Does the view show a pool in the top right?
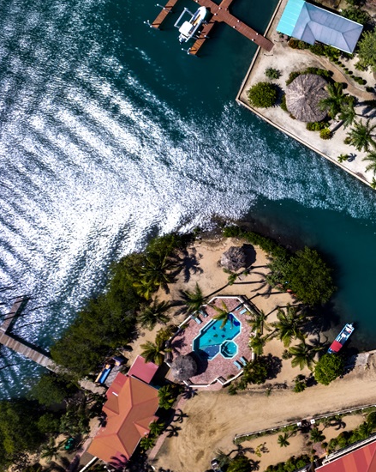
No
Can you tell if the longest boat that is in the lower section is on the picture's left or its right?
right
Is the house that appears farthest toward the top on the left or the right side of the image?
right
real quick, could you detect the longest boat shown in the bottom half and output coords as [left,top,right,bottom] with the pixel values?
[327,322,357,354]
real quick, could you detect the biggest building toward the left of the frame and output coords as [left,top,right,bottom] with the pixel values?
[87,372,167,470]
